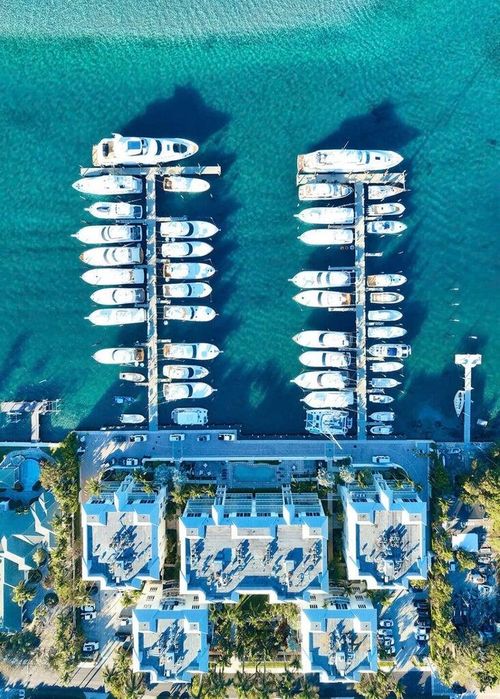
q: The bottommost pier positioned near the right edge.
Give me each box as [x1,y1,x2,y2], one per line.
[454,353,486,443]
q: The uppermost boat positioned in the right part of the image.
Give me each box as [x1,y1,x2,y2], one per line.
[294,129,406,172]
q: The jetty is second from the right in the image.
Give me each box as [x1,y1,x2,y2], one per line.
[296,168,408,439]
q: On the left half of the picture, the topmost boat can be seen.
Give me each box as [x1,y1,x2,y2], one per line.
[91,120,199,165]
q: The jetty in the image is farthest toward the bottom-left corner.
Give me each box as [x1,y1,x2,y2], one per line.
[0,401,62,443]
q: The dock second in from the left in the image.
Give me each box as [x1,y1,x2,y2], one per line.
[77,160,221,429]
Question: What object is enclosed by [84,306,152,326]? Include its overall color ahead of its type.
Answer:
white boat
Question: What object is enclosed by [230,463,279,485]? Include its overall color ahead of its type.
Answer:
blue swimming pool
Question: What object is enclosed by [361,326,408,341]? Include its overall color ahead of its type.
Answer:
white boat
